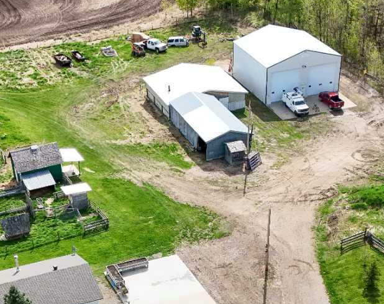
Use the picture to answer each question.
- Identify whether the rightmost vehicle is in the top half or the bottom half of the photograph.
top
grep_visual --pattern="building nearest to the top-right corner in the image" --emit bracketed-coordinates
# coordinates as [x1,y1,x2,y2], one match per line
[233,24,342,104]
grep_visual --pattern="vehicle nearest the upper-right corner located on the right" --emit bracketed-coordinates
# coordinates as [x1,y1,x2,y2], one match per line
[314,89,346,109]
